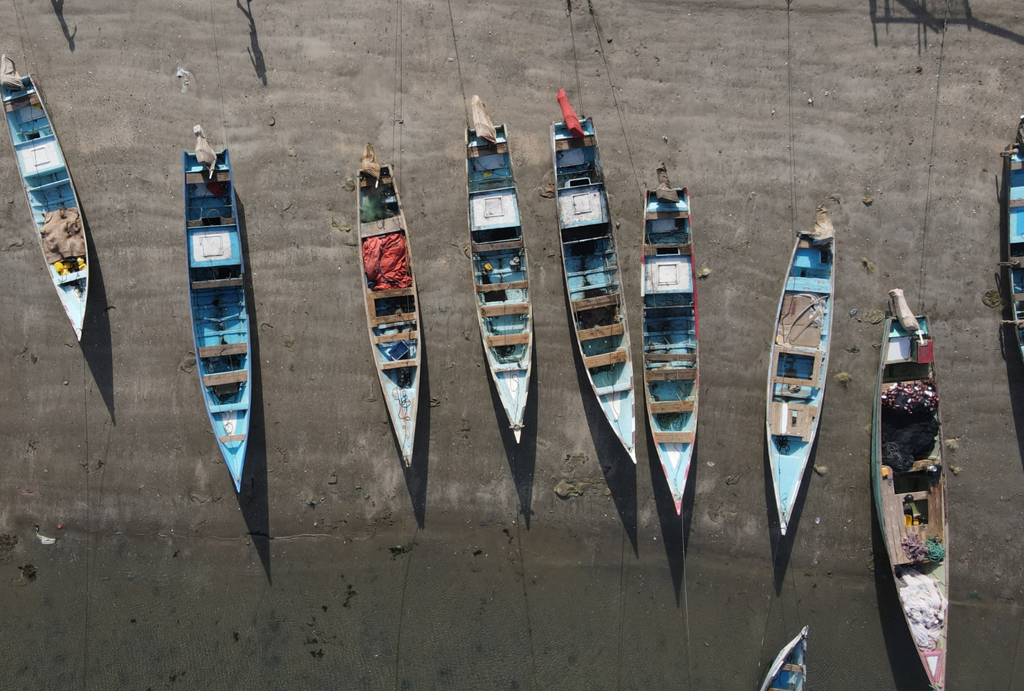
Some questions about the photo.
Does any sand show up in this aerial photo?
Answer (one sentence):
Yes, there is sand in the image.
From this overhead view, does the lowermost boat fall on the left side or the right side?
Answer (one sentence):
The lowermost boat sits on the right side.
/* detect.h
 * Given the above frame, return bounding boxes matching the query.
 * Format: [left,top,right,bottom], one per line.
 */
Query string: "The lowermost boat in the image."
[758,625,809,691]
